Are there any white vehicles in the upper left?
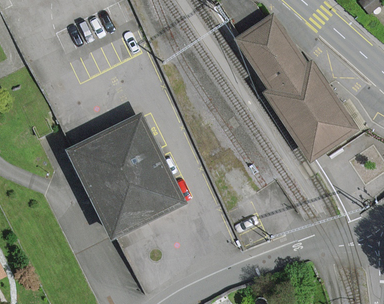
Yes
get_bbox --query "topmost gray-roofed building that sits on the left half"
[65,113,187,240]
